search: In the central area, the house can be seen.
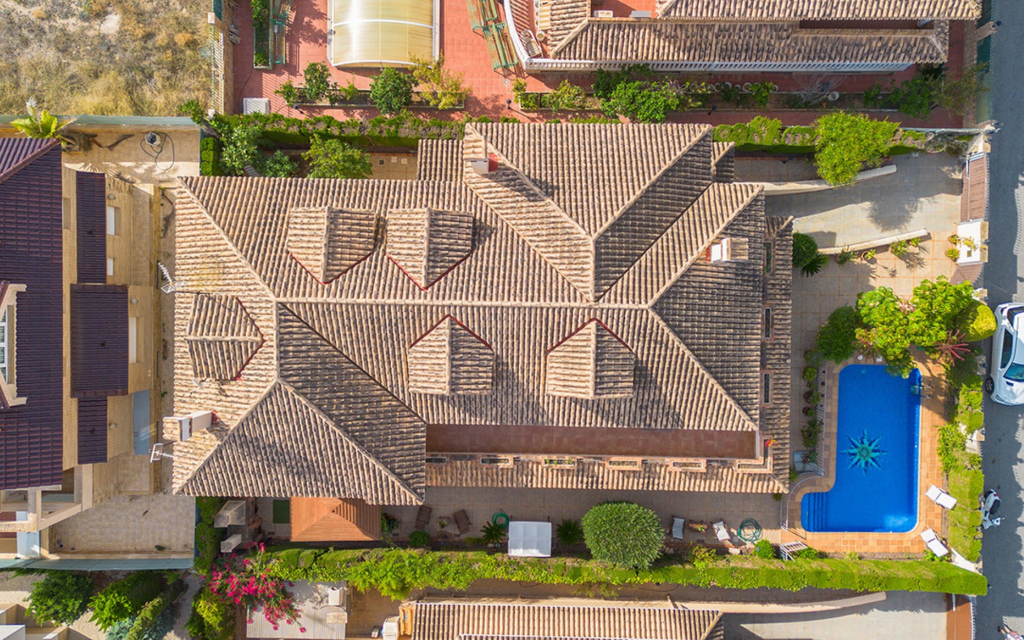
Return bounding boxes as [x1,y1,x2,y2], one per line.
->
[162,121,795,507]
